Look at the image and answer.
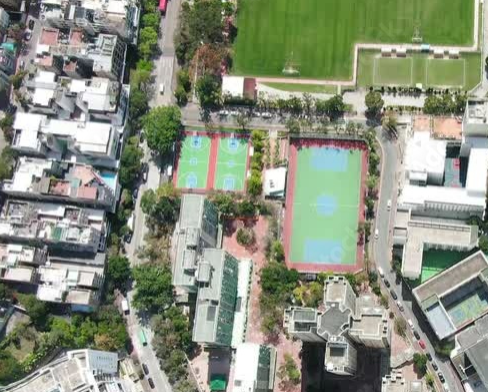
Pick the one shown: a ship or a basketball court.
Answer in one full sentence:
The one in the frame is a basketball court.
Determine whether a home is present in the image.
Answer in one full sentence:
Yes, a home can be made out from above.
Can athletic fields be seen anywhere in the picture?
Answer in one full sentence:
Yes, this view includes an athletic field.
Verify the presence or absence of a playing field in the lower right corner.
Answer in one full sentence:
No, no playing field is visible in the lower right corner.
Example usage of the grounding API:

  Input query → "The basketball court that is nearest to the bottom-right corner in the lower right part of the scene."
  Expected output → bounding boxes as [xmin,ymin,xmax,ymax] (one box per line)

[442,282,488,334]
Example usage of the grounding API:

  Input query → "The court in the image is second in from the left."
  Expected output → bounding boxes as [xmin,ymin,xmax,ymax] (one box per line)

[285,139,369,275]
